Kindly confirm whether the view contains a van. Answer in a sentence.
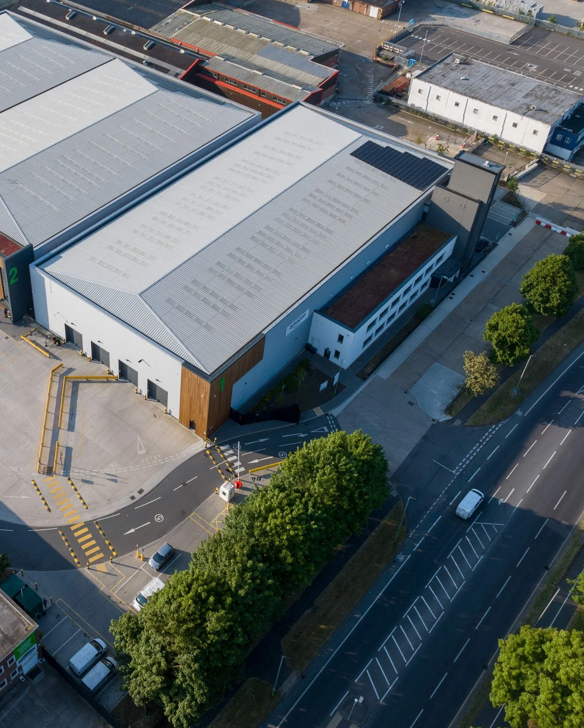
Yes, the photo shows a van.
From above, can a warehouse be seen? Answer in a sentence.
Yes, a warehouse is visible in the scene.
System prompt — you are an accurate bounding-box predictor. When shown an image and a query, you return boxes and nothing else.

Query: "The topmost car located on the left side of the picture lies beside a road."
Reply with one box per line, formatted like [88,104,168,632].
[146,542,176,575]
